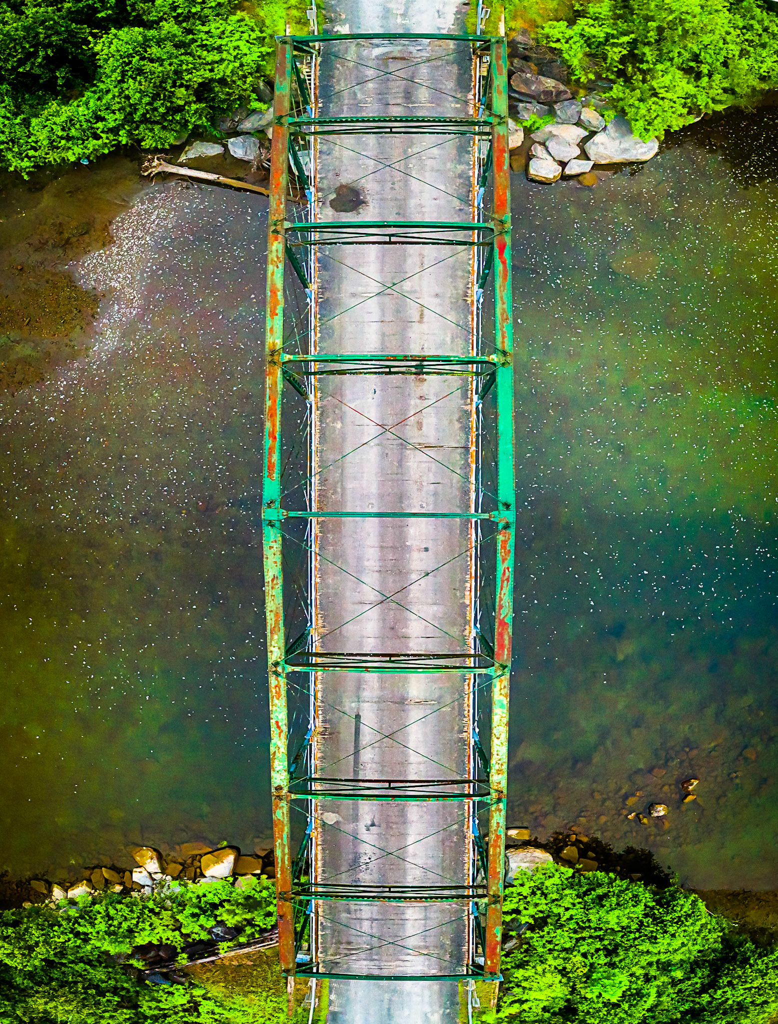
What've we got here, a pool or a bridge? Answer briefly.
bridge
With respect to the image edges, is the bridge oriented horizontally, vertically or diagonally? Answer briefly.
vertically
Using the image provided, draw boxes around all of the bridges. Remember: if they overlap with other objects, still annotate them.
[262,31,517,983]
